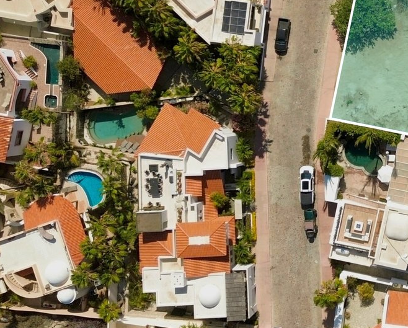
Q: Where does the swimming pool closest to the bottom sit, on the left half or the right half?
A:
left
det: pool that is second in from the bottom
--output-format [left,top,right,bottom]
[341,136,386,178]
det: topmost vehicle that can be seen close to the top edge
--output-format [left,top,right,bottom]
[272,16,291,57]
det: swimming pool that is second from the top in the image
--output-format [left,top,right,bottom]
[44,94,59,109]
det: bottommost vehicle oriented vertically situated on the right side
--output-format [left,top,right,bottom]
[298,165,315,208]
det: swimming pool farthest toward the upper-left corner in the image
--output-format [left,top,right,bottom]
[28,42,60,87]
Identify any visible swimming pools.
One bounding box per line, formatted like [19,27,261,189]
[28,42,60,87]
[341,136,386,178]
[44,94,59,109]
[66,169,107,209]
[85,106,148,145]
